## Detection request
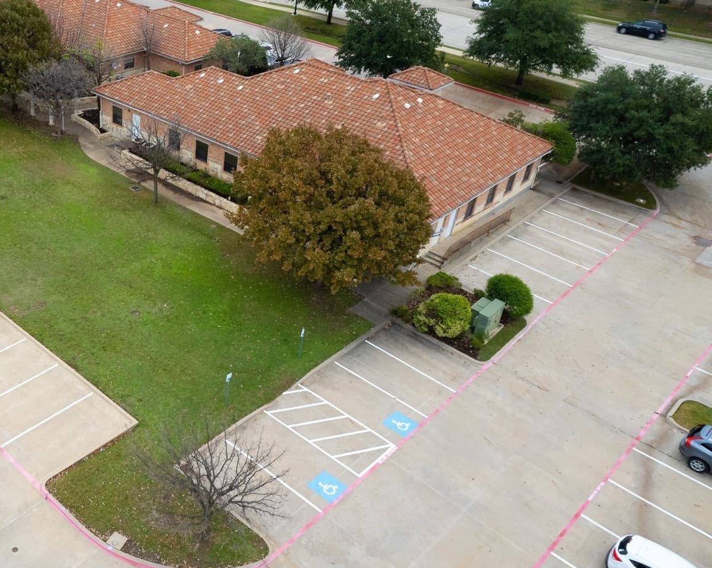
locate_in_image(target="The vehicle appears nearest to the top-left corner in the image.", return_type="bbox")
[224,23,258,42]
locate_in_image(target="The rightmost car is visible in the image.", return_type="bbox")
[679,422,712,468]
